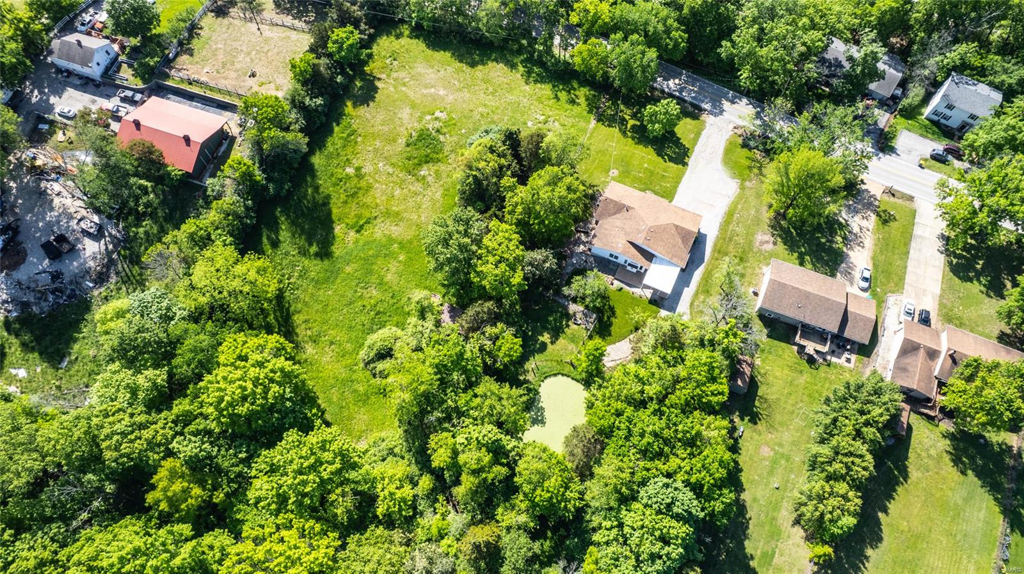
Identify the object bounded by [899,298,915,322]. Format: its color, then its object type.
white car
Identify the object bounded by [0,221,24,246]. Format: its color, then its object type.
black work vehicle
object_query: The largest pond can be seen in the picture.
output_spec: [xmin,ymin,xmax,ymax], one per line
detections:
[504,377,588,454]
